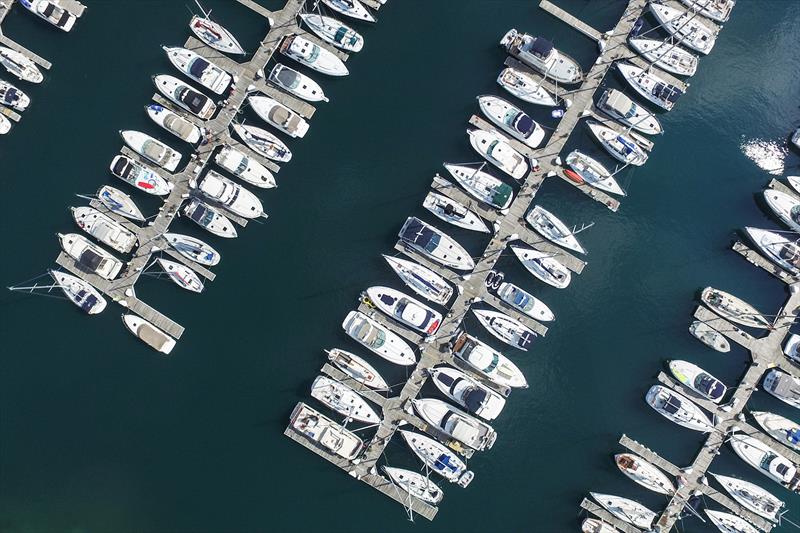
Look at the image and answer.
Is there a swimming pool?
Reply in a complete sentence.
No, this view has no swimming pool in it.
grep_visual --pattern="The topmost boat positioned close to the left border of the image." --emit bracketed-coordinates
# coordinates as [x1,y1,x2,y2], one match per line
[12,0,76,31]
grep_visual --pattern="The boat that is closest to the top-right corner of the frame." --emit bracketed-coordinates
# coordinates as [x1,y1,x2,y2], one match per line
[687,0,737,22]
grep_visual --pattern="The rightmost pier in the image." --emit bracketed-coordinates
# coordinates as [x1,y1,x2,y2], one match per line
[580,178,800,533]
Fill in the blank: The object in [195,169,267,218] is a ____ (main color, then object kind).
white boat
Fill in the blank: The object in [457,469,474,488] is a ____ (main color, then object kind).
white boat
